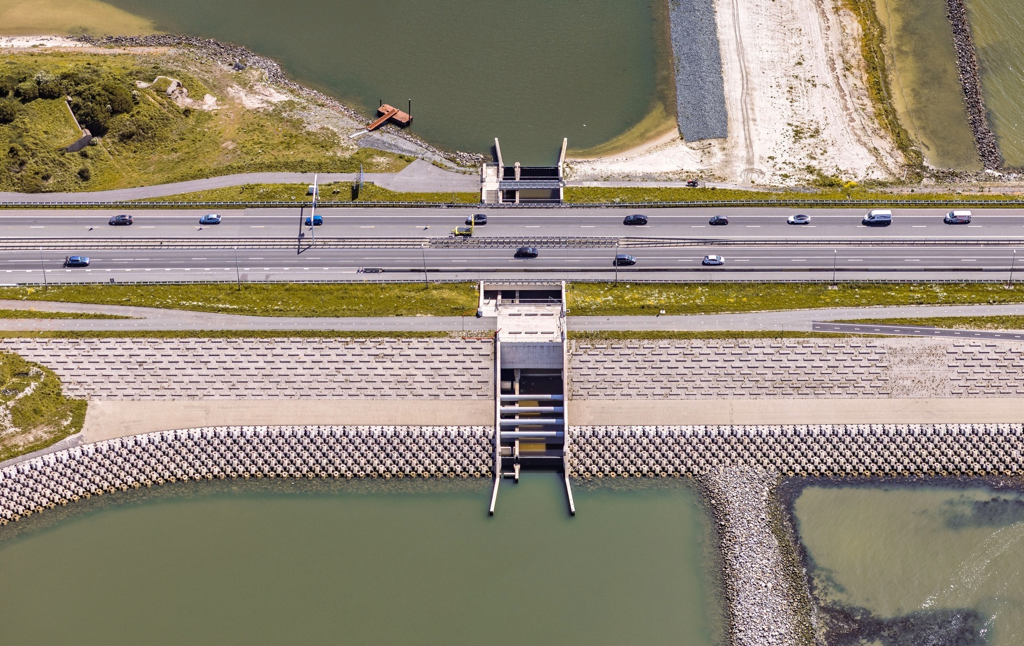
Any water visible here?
Yes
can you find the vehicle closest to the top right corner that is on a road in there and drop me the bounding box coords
[947,211,971,223]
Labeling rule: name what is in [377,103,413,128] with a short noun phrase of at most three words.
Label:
pier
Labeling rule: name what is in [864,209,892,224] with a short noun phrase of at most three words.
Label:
vehicle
